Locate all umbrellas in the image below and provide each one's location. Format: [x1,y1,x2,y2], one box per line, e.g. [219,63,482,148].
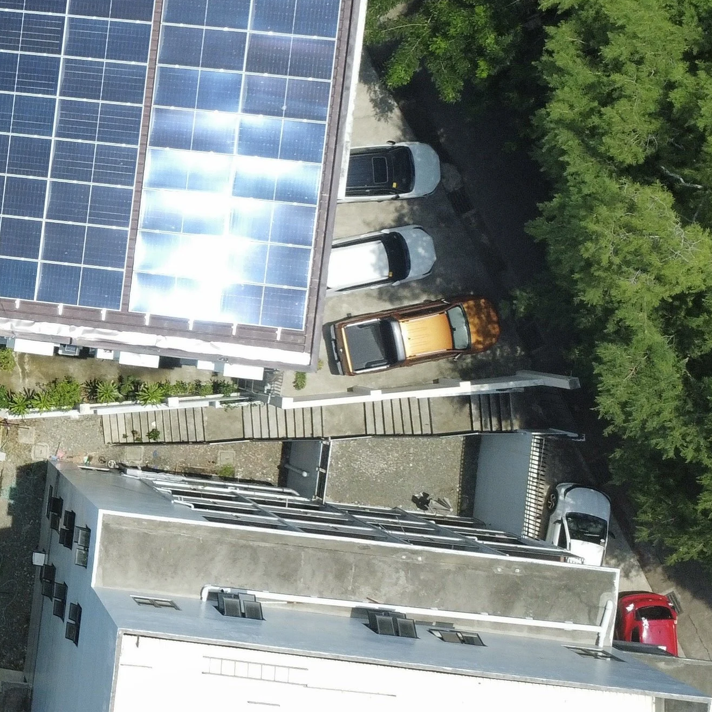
[430,496,451,509]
